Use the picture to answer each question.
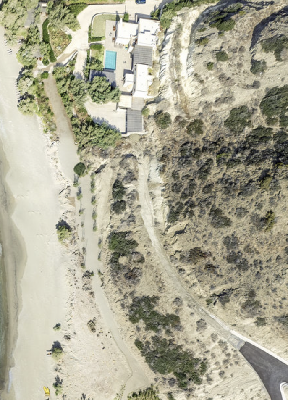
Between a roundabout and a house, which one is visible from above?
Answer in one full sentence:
Visible in the photo is a house.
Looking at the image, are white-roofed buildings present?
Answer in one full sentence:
Yes, a white-roofed building is visible in the scene.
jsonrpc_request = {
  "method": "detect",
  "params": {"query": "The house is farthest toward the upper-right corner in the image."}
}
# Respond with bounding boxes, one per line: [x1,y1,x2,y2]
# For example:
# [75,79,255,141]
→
[133,18,161,48]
